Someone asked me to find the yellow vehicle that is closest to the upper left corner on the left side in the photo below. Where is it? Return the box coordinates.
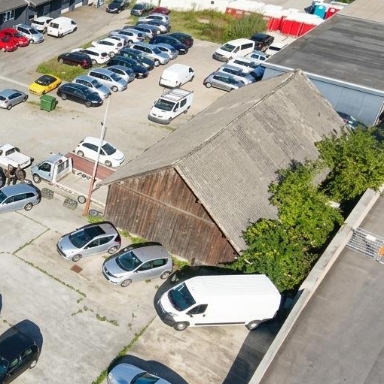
[27,71,63,93]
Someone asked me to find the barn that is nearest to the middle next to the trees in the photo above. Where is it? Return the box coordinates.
[89,66,345,275]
